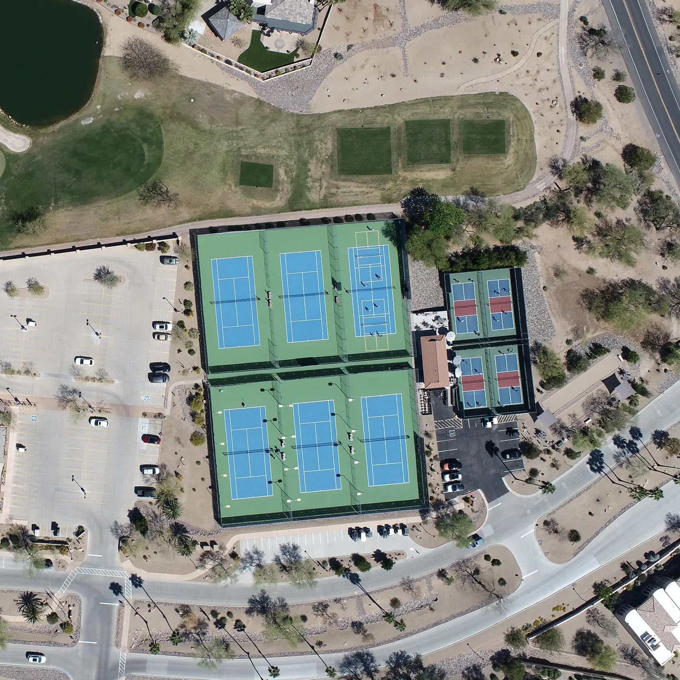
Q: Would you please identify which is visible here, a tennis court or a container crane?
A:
tennis court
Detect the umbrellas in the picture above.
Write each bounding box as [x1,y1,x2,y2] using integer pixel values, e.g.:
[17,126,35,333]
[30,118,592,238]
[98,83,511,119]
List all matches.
[452,356,463,367]
[445,330,456,342]
[452,369,464,379]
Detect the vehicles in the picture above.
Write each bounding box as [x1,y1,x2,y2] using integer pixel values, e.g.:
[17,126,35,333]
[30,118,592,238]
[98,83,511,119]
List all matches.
[465,534,484,549]
[401,526,409,536]
[379,528,387,538]
[350,531,358,542]
[500,450,520,459]
[35,527,41,537]
[365,528,372,538]
[150,364,169,372]
[444,482,463,490]
[142,434,160,444]
[161,255,180,265]
[358,531,366,540]
[75,357,94,366]
[149,375,168,383]
[440,460,459,470]
[482,418,490,427]
[18,446,27,452]
[91,419,109,427]
[387,526,394,537]
[395,526,402,537]
[141,466,159,476]
[27,654,47,663]
[501,428,520,438]
[154,333,172,341]
[154,322,173,330]
[489,416,497,425]
[441,471,460,481]
[135,488,156,499]
[29,321,37,327]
